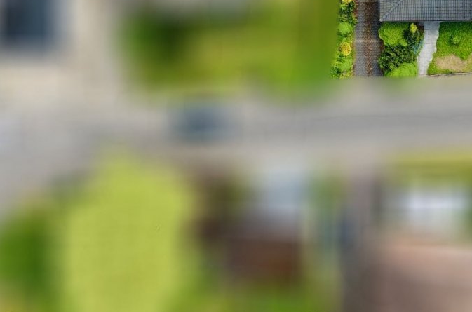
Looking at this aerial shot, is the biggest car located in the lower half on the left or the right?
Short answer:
right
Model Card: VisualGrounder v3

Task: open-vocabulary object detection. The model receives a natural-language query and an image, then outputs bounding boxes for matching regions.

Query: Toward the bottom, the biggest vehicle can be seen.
[403,183,470,217]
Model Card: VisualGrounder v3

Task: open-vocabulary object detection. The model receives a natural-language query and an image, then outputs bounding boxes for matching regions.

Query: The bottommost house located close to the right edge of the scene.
[376,230,472,312]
